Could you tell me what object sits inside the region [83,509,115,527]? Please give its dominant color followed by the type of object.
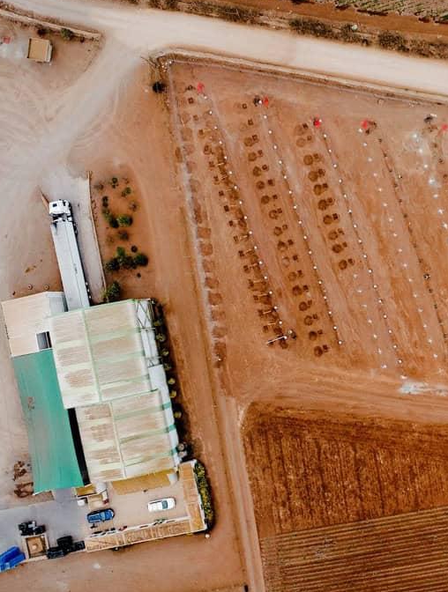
blue vehicle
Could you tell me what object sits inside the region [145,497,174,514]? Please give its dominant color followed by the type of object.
white car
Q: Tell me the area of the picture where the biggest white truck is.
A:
left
